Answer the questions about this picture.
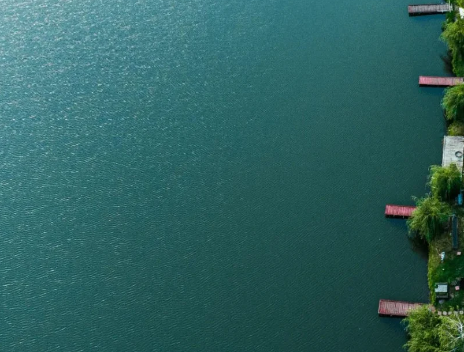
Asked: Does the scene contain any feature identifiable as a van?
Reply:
No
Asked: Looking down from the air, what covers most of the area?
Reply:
water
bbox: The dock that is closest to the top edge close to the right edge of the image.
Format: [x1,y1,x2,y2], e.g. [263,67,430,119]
[408,0,452,15]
